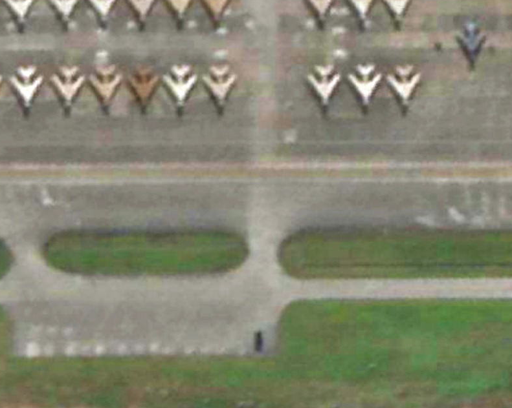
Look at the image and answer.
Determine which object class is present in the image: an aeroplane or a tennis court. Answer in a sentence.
It is an aeroplane that can be seen here.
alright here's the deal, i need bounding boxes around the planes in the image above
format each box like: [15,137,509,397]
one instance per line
[349,65,381,109]
[6,0,32,25]
[350,0,372,23]
[310,0,333,24]
[387,0,410,24]
[389,65,421,109]
[90,0,114,24]
[10,66,44,110]
[205,0,229,24]
[52,66,85,110]
[130,0,154,25]
[52,0,78,25]
[204,64,237,109]
[168,0,192,24]
[89,65,122,109]
[309,64,341,109]
[164,65,197,109]
[127,66,161,110]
